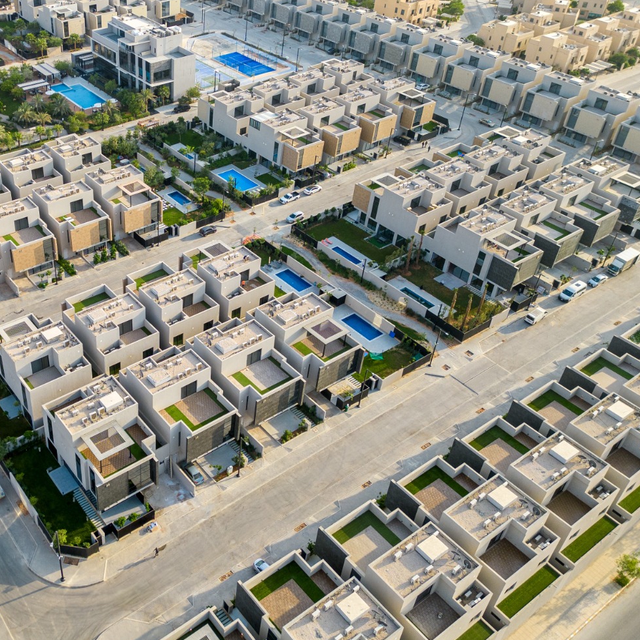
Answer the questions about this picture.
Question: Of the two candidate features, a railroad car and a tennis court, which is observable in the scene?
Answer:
tennis court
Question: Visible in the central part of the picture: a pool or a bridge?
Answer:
pool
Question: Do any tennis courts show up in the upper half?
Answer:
Yes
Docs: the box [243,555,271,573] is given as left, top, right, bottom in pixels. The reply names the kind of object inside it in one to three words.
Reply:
car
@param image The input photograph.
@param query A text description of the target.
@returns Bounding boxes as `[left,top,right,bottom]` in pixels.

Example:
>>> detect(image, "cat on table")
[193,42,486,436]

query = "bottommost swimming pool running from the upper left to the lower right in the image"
[340,311,386,342]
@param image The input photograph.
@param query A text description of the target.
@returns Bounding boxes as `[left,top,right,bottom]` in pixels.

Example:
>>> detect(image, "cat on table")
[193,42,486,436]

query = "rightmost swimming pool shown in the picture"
[392,281,439,310]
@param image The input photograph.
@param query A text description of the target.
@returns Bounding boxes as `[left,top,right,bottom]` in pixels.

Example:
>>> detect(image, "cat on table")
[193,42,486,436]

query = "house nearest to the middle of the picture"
[246,292,367,396]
